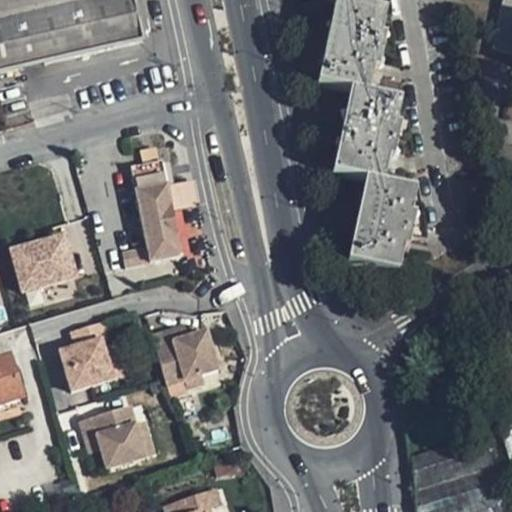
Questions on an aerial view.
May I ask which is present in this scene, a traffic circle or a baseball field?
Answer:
traffic circle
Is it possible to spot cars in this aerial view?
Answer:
Yes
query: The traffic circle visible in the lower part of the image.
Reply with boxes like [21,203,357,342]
[284,366,366,449]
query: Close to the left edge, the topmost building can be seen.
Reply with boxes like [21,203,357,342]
[0,0,142,72]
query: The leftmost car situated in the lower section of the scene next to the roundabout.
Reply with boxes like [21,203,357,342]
[289,452,306,476]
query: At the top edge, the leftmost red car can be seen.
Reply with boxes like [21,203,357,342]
[194,4,206,25]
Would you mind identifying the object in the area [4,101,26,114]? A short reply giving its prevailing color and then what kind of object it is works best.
white vehicle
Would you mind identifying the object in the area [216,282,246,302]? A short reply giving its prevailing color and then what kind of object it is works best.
white vehicle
